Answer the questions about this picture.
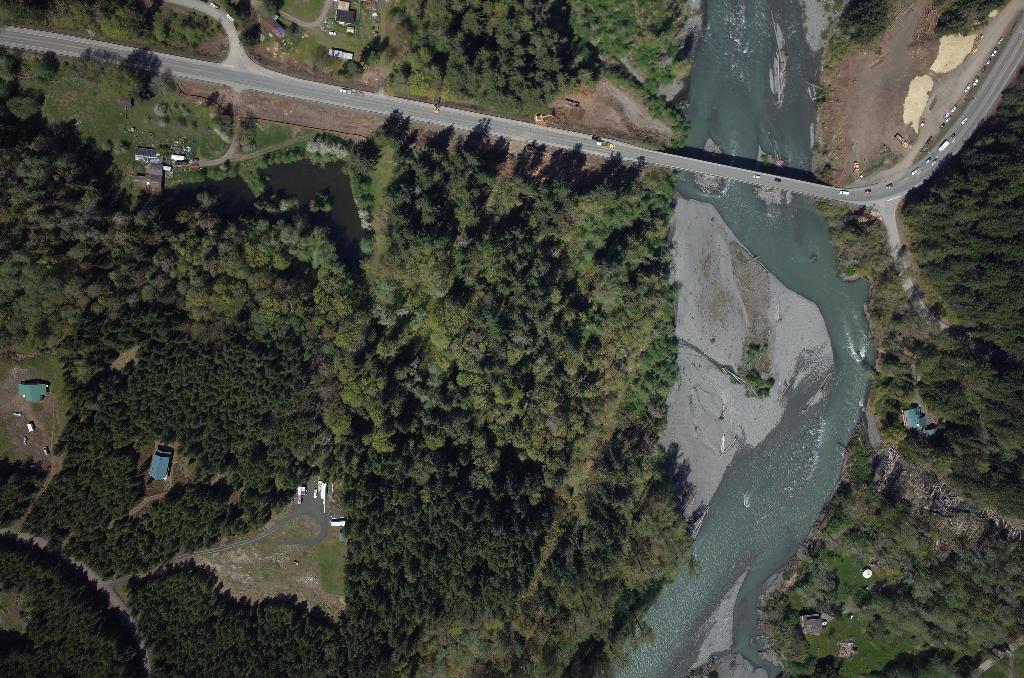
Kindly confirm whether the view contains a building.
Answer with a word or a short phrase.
Yes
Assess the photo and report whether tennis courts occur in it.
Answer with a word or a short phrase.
No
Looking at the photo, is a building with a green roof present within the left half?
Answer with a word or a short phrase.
Yes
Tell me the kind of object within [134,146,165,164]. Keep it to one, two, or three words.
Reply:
barn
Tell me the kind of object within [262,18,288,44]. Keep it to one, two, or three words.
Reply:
house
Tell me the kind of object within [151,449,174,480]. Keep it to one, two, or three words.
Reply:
house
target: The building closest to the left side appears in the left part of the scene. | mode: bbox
[20,384,49,402]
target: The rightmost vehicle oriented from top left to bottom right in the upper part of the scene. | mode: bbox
[893,132,909,148]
